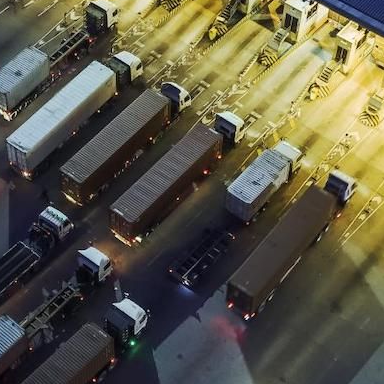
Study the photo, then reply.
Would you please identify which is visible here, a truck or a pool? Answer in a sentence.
Of the two, only a truck appears.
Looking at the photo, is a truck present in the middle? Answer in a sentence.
Yes, I can see a truck in the middle.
